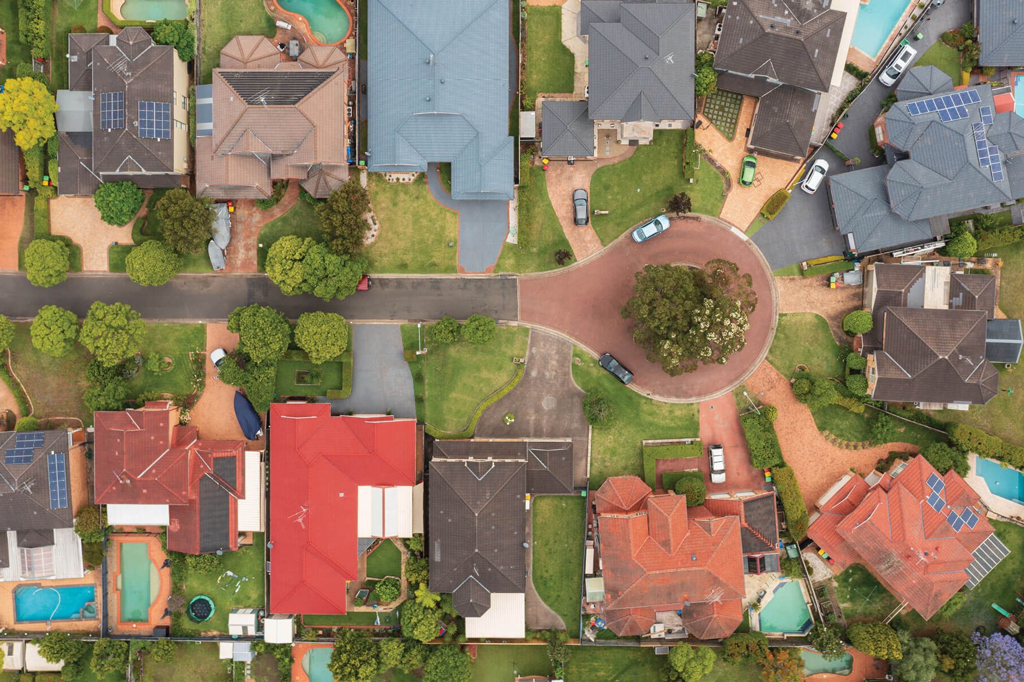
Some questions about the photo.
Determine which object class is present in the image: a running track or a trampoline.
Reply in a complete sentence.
It is a trampoline that can be seen here.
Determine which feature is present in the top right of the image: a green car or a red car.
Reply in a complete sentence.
Visible in the top right of the image is a green car.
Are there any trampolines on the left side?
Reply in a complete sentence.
Yes, I can see a trampoline on the left side.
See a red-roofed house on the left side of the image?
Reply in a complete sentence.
Yes, the scene does show a red-roofed house on the left side of the image.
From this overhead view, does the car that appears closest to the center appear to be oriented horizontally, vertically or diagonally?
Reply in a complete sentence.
From this overhead view, the car that appears closest to the center appears to run diagonally.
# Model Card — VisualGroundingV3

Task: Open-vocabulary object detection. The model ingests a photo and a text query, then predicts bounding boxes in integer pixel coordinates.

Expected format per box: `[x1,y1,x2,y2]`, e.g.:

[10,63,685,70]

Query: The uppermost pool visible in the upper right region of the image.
[849,0,910,63]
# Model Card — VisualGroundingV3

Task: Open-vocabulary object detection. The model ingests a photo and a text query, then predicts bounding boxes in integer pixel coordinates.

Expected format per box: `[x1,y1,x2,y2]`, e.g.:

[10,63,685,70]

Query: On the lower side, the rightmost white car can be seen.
[708,443,727,483]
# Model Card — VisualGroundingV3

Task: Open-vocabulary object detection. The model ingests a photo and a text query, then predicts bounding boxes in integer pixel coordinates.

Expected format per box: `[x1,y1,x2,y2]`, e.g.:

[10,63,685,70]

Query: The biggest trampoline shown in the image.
[188,596,216,622]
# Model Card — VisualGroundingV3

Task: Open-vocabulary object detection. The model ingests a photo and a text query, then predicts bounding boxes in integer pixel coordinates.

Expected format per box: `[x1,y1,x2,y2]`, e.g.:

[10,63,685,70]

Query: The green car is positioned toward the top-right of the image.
[738,155,757,188]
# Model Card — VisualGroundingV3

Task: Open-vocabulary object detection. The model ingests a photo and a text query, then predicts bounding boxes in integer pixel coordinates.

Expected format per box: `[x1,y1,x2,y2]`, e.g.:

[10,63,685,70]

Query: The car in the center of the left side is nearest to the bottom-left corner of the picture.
[213,351,230,371]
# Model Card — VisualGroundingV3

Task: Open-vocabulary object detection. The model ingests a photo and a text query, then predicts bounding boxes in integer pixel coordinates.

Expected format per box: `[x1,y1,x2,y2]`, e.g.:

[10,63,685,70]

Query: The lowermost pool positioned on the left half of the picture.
[299,646,335,682]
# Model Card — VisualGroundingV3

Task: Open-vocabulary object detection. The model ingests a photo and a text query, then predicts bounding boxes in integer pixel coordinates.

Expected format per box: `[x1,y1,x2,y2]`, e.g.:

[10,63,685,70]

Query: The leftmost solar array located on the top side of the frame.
[100,91,124,129]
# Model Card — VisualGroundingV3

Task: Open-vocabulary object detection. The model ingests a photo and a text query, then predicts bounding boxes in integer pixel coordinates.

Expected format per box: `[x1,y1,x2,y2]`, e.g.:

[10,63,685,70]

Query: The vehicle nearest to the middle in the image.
[599,353,635,384]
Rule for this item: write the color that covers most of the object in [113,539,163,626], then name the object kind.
green swimming pool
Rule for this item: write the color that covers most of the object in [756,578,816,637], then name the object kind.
green swimming pool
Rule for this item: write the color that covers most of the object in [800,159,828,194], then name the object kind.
white car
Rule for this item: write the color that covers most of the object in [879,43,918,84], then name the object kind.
white vehicle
